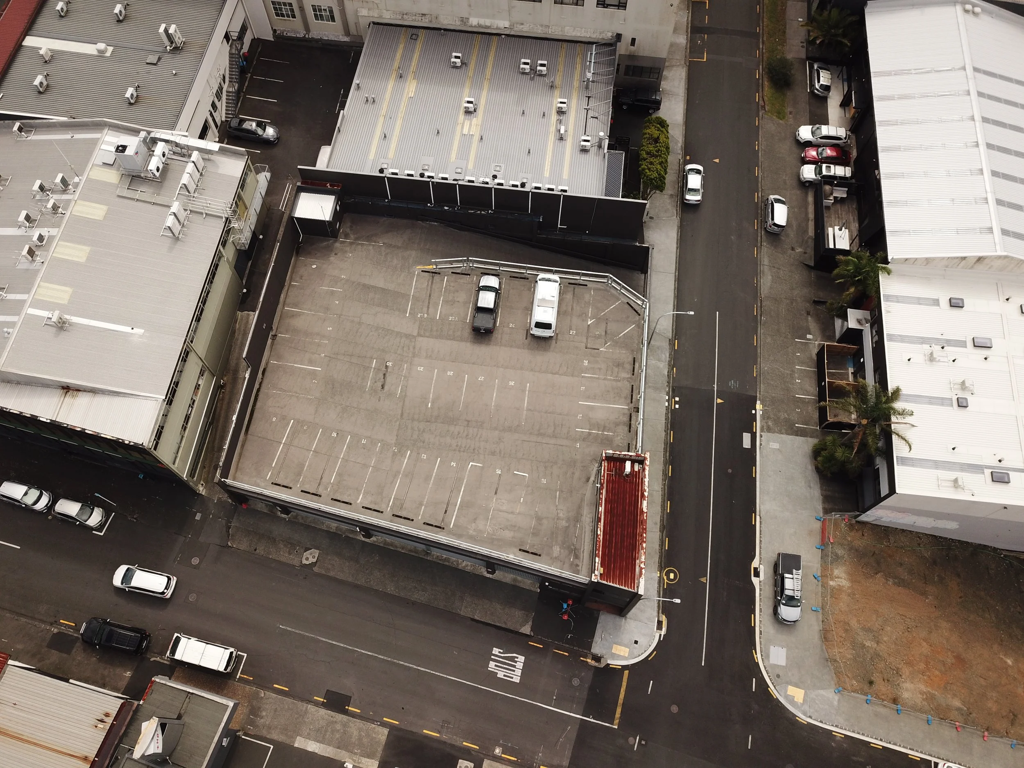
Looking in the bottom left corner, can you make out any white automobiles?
Yes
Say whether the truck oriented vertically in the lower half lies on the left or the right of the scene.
right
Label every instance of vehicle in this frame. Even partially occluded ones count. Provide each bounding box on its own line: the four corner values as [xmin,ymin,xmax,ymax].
[46,498,111,531]
[809,62,833,101]
[801,144,852,165]
[78,614,154,656]
[531,274,563,339]
[775,552,808,624]
[167,629,240,672]
[112,563,180,599]
[682,164,707,208]
[796,123,849,148]
[937,757,976,768]
[799,161,853,187]
[0,476,57,511]
[764,196,790,237]
[472,275,502,335]
[225,115,282,145]
[617,86,664,113]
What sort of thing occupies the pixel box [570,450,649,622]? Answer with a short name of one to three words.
building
